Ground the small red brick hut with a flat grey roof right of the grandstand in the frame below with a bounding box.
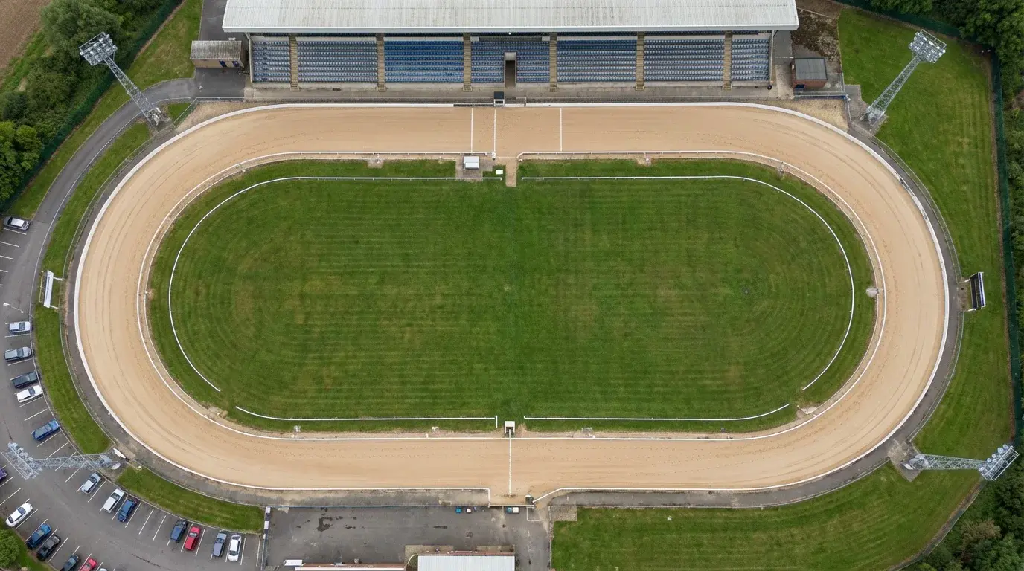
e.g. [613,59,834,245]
[792,59,831,87]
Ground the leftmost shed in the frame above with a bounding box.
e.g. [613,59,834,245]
[186,38,241,67]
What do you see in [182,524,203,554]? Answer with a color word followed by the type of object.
red car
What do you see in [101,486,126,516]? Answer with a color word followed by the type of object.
white car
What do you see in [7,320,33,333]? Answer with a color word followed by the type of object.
white vehicle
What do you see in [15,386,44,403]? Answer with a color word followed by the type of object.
white car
